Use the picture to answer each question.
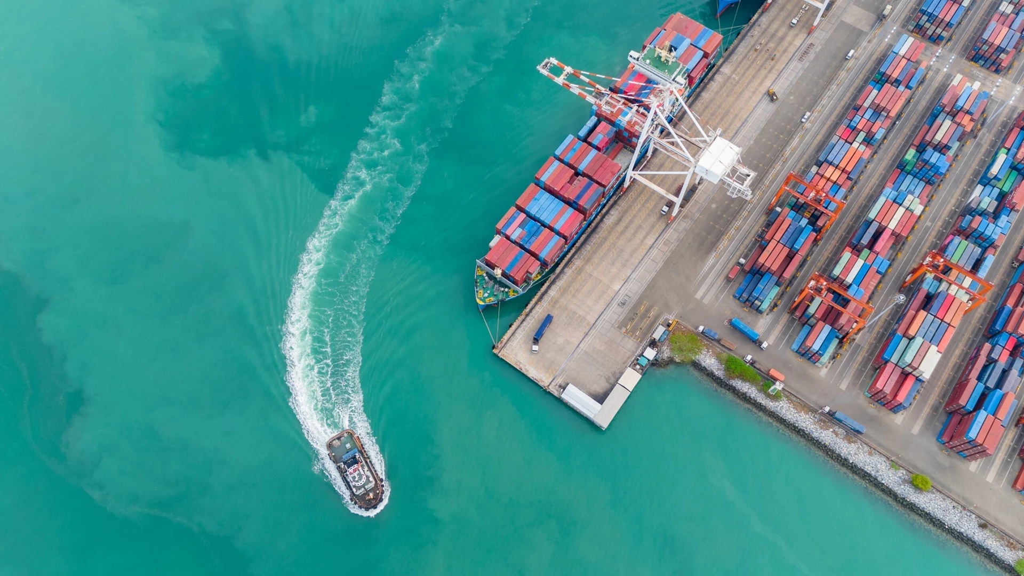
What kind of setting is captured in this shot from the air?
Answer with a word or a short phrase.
port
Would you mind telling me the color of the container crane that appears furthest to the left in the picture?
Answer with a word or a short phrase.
white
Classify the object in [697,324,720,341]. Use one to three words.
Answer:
vehicle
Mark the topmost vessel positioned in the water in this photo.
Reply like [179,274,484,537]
[714,0,749,20]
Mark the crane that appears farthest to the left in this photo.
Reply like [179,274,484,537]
[535,53,761,229]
